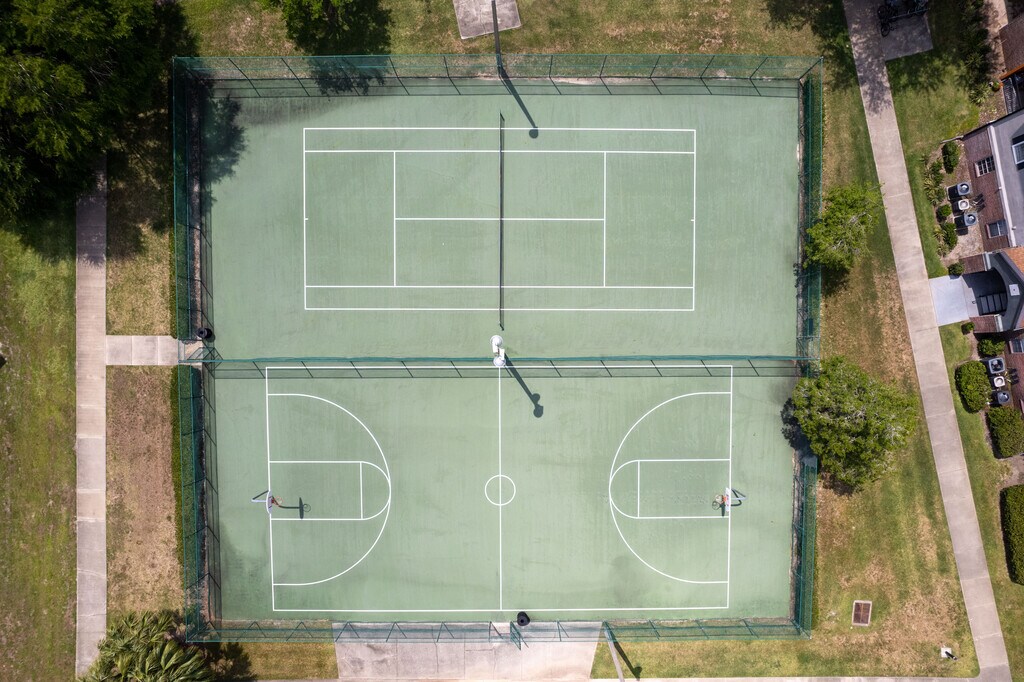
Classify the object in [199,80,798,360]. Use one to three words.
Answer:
tennis court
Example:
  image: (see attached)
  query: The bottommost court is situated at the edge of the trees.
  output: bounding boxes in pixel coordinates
[203,360,797,621]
